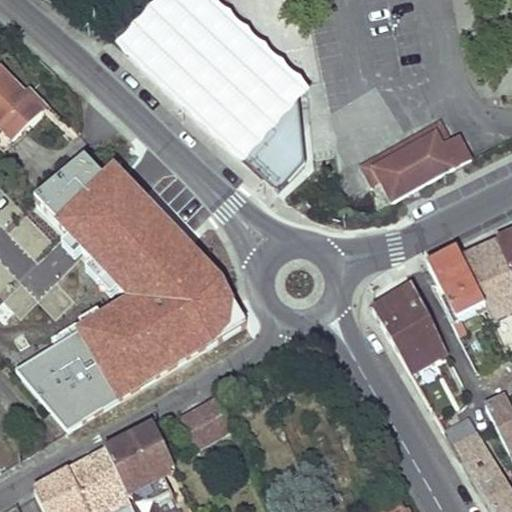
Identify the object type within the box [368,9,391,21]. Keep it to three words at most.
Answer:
vehicle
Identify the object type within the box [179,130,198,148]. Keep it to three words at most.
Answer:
car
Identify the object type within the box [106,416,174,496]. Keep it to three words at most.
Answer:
house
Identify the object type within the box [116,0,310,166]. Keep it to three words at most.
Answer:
building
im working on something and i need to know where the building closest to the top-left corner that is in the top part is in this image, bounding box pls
[0,62,47,150]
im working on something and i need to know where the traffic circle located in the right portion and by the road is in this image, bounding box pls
[217,190,404,352]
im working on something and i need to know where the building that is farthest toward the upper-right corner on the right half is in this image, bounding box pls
[361,121,471,206]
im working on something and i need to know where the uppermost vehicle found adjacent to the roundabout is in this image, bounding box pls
[222,168,241,186]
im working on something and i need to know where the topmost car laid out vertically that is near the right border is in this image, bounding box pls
[474,408,487,430]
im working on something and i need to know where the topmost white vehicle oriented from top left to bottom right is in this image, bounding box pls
[122,72,140,90]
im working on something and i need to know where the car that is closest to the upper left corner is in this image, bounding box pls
[100,53,119,72]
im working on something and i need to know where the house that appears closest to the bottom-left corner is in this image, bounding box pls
[34,464,94,512]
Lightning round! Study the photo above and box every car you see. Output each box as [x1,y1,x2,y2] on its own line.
[467,504,478,512]
[372,25,394,36]
[100,53,119,72]
[122,72,140,90]
[139,90,159,109]
[368,9,391,21]
[392,3,414,16]
[412,202,436,218]
[474,408,487,430]
[181,200,200,219]
[179,130,198,148]
[457,483,472,504]
[222,168,241,186]
[400,55,422,65]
